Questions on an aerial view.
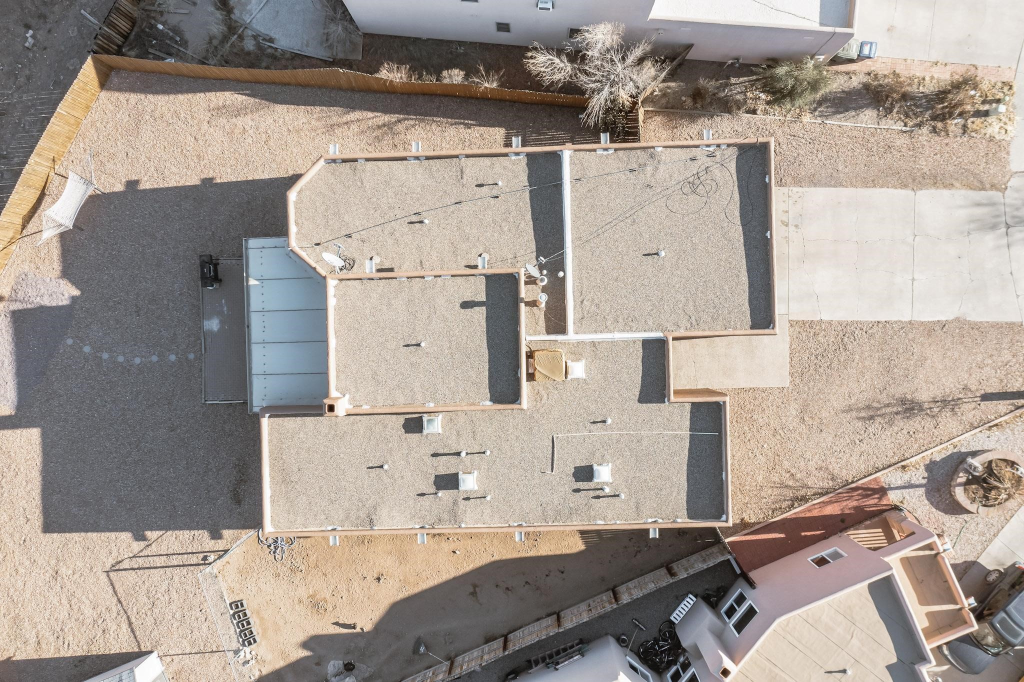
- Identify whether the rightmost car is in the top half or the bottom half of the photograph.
bottom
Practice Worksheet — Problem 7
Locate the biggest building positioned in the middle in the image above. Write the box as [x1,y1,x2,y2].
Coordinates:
[261,128,777,546]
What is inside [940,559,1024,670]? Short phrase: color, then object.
gray car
